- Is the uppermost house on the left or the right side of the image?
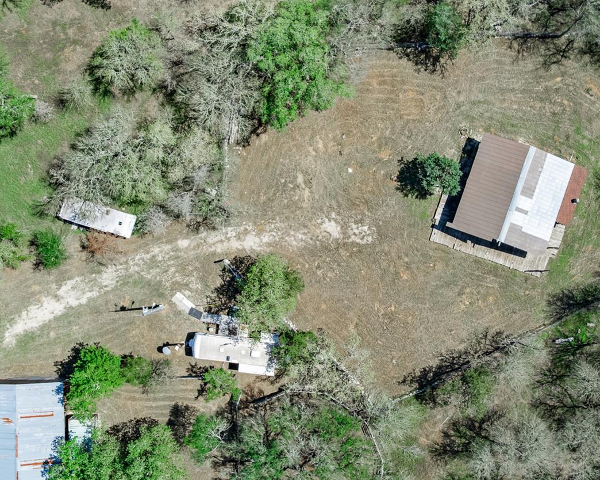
right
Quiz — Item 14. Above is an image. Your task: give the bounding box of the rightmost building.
[446,135,587,256]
